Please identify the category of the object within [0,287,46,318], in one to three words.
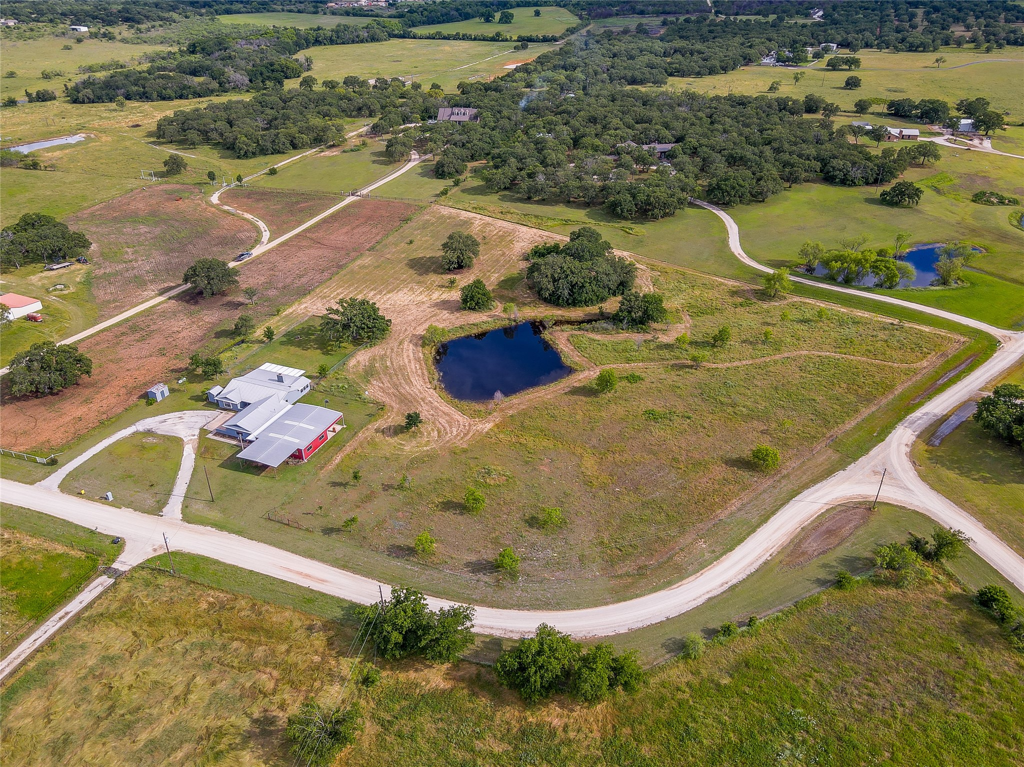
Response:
barn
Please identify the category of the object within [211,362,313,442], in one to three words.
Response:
house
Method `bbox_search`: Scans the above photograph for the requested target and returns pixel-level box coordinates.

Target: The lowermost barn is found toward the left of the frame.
[235,403,344,479]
